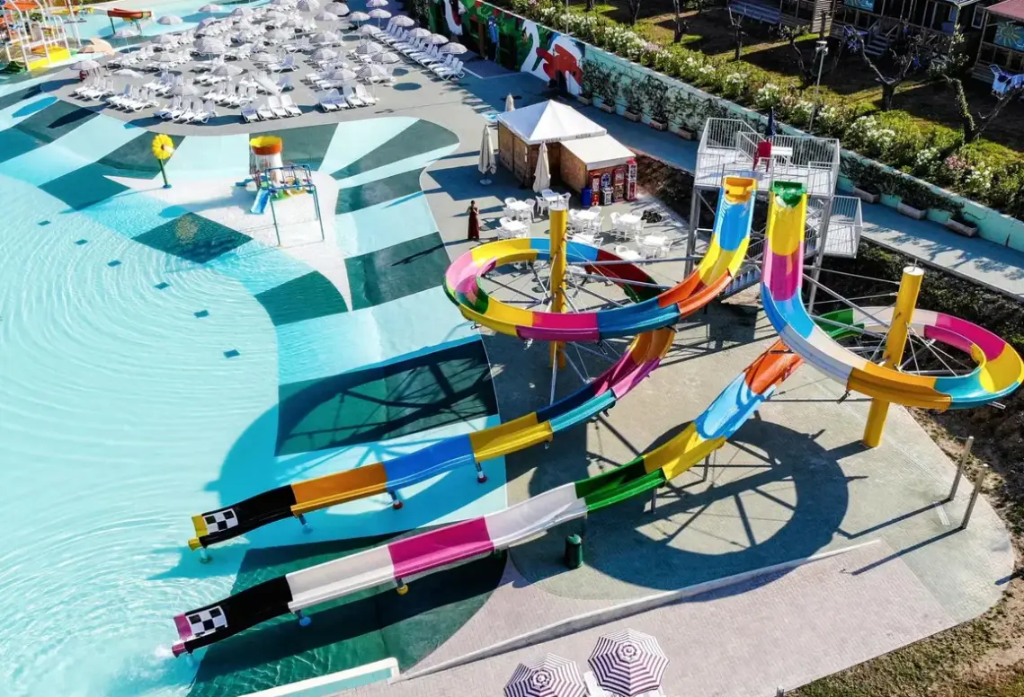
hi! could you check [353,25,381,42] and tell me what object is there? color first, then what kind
white umbrella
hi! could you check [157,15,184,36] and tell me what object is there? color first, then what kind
white umbrella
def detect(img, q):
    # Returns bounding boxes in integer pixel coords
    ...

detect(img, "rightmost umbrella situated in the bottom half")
[584,643,668,697]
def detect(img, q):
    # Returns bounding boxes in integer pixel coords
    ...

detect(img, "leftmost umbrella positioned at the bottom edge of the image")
[504,658,587,697]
